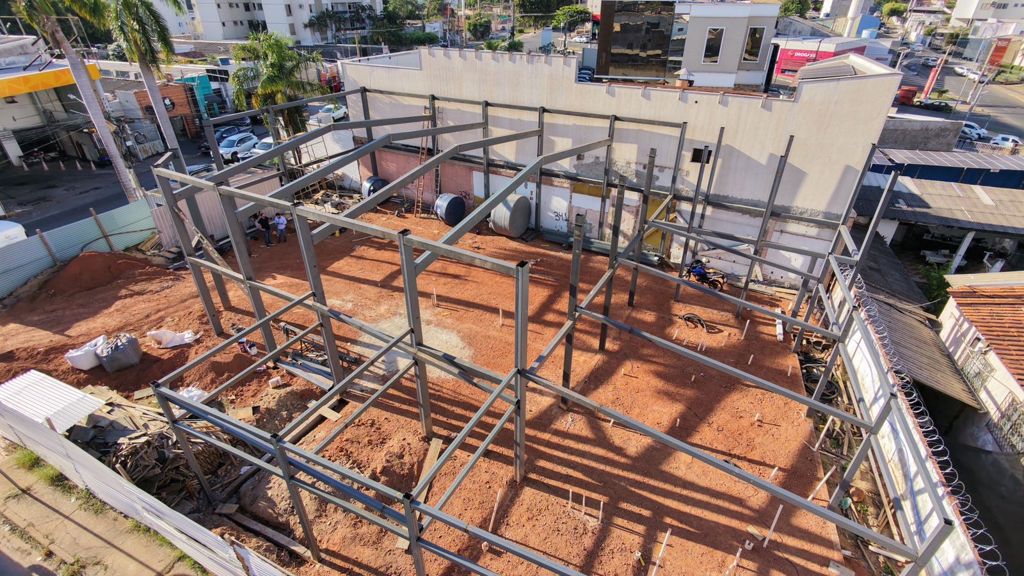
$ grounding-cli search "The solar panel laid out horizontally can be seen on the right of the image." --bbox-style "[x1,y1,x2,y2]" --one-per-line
[799,64,860,79]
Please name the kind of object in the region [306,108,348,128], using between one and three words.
car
